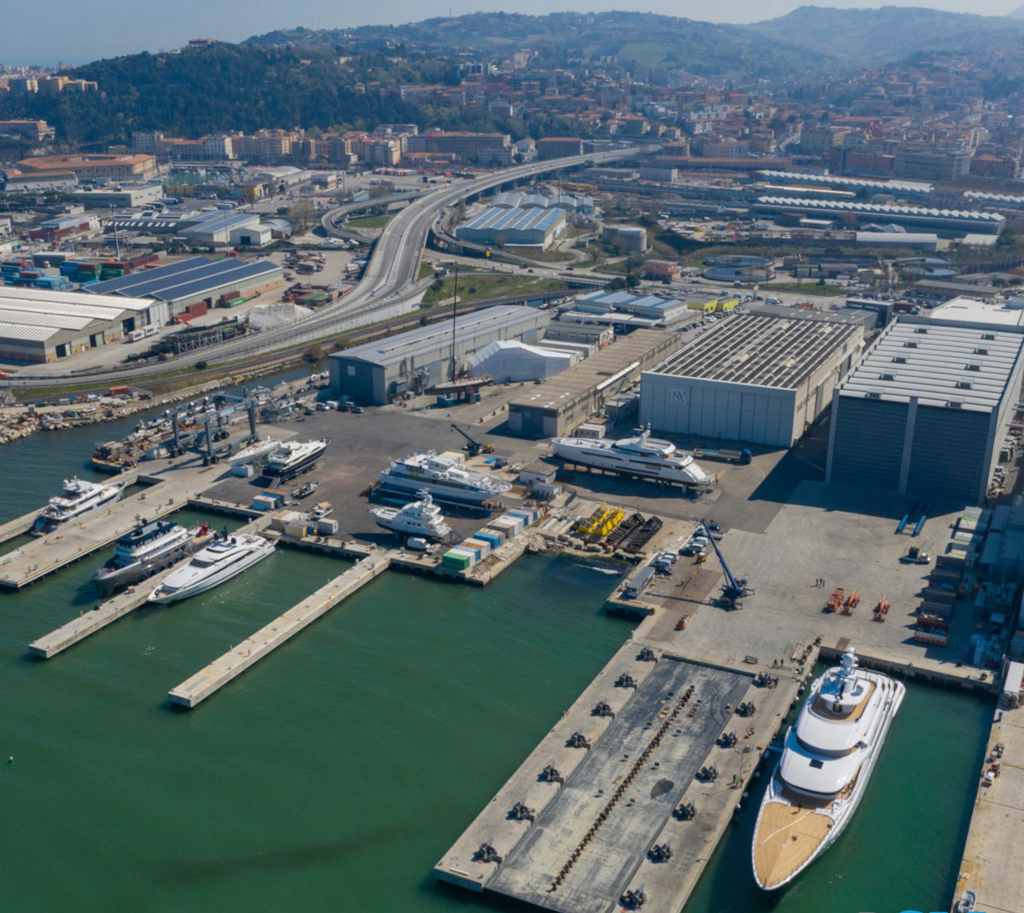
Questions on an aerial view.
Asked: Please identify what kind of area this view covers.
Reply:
port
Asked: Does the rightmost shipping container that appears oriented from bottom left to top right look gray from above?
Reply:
Yes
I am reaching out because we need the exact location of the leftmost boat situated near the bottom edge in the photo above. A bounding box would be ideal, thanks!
[756,640,902,899]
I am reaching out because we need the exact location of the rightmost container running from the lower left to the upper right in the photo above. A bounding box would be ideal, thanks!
[616,562,657,604]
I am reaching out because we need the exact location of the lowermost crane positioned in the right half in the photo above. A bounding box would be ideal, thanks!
[701,519,749,614]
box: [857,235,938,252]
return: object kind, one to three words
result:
shed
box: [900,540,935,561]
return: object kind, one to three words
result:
truck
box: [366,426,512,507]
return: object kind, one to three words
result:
ship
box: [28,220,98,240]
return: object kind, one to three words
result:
building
